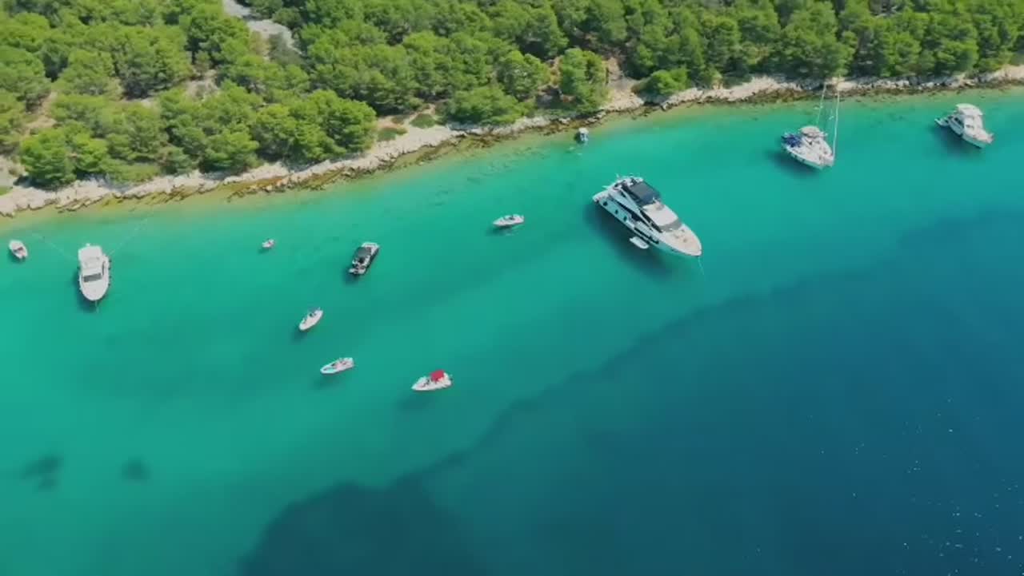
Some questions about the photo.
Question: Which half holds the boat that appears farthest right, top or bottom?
top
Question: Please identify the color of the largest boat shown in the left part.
white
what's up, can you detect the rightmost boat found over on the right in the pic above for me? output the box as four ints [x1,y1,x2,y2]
[930,107,989,149]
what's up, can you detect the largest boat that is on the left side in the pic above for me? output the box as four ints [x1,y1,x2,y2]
[78,239,113,302]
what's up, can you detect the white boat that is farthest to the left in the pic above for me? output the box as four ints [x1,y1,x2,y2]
[10,242,32,264]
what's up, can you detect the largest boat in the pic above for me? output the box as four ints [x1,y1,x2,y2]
[589,174,701,262]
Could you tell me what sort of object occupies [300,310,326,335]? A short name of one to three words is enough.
boat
